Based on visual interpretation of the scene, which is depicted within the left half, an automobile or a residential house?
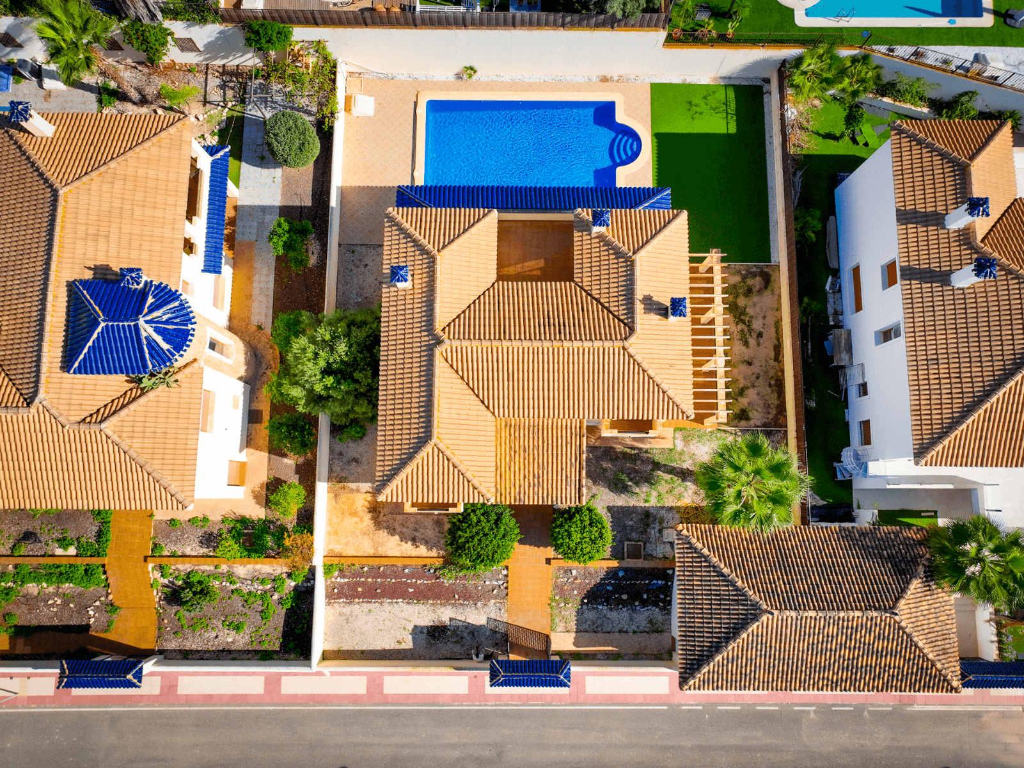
residential house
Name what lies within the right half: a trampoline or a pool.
pool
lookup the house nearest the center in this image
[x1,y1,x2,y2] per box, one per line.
[375,184,697,515]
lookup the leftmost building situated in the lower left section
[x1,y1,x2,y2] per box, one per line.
[54,658,163,690]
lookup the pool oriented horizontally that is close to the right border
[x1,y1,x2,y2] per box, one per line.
[769,0,990,30]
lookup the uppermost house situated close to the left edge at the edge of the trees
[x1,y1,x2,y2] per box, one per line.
[0,98,263,511]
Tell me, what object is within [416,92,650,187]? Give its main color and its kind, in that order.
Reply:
blue swimming pool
